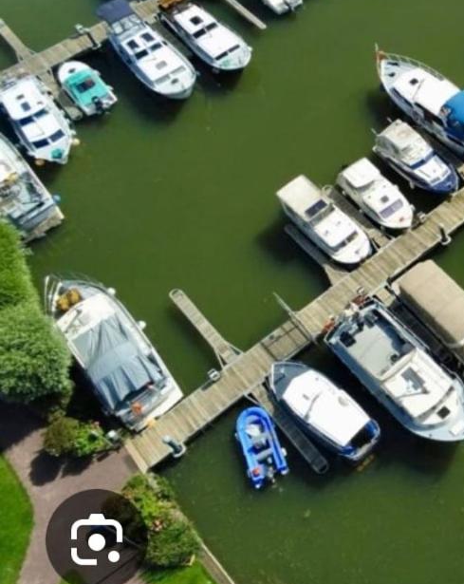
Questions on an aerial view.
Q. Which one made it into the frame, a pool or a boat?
boat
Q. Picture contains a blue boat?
Yes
